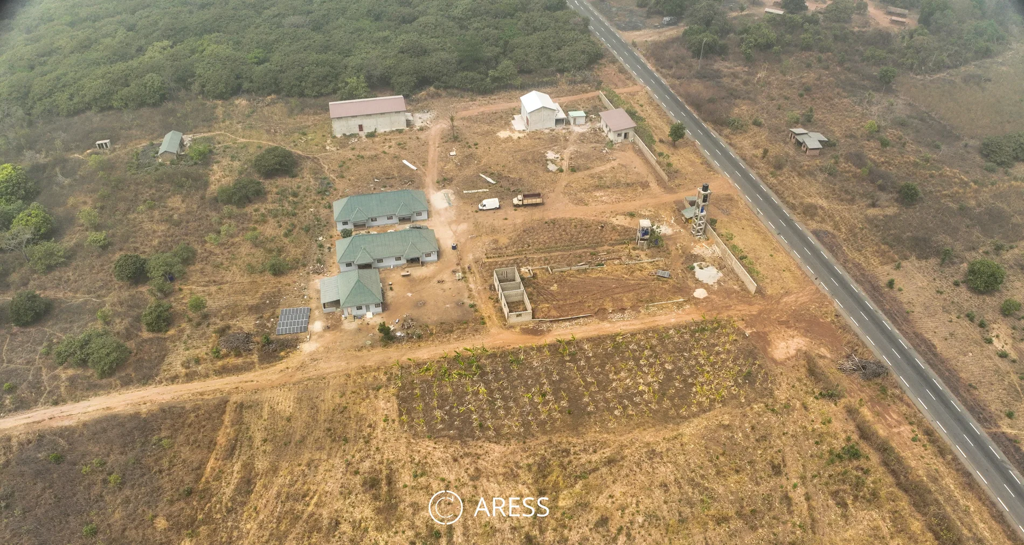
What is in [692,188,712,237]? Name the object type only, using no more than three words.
water tower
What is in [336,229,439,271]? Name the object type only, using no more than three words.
building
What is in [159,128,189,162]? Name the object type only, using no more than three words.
barn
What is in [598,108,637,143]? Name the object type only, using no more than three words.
building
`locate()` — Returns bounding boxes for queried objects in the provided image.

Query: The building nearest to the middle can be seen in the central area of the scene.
[495,265,531,323]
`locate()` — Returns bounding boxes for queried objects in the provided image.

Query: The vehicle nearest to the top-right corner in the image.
[512,192,544,207]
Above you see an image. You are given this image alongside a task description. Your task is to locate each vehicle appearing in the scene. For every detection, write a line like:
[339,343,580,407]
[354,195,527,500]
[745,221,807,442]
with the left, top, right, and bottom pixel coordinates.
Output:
[512,192,544,207]
[479,197,499,210]
[409,221,426,230]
